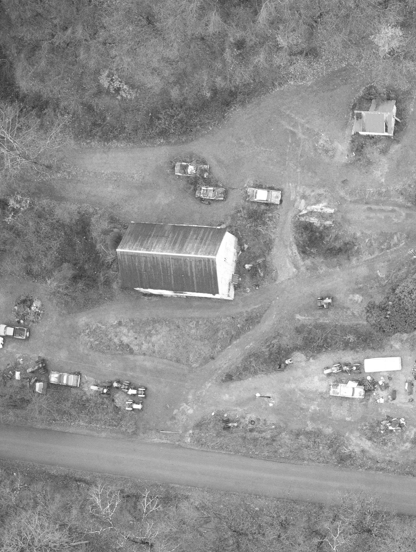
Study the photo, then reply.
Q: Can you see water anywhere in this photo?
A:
No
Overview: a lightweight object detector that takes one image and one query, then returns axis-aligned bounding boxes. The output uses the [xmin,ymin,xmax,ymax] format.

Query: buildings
[116,223,251,298]
[353,99,400,138]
